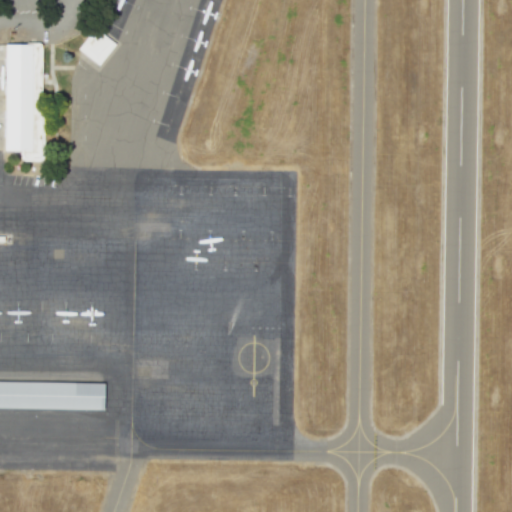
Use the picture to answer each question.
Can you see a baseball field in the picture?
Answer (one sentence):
No, no baseball field is visible in the view.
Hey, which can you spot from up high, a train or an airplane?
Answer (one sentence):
I can see an airplane in this picture.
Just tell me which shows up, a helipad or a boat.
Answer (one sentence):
It is a helipad that can be seen here.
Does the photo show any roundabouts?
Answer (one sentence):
No, there appears to be no roundabout in this shot.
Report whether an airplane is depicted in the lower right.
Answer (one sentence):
No, no airplane appears in the lower right.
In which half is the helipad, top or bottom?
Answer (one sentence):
Seen from above, the helipad lies in the bottom half of the view.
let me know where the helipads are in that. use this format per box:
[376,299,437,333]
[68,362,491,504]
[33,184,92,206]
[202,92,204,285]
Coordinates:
[233,336,280,426]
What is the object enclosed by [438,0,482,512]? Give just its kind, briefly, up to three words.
runway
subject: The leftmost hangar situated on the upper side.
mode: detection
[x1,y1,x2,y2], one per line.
[6,42,45,161]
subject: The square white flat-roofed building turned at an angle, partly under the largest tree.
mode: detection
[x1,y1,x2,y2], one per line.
[80,32,118,66]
